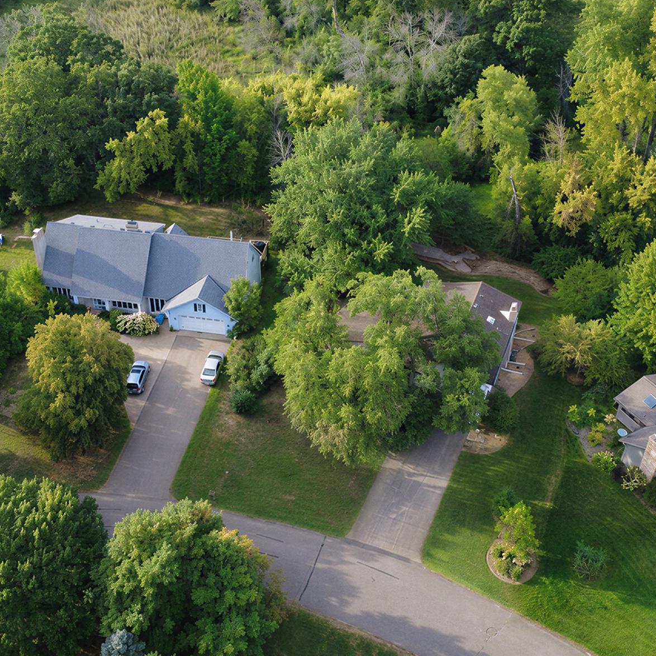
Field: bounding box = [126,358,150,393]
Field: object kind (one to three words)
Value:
car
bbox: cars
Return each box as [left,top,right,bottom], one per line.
[199,350,222,385]
[126,358,150,393]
